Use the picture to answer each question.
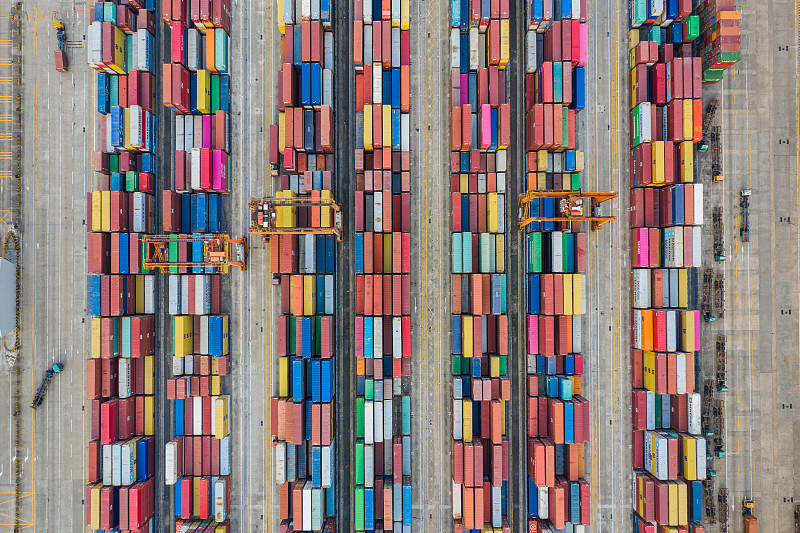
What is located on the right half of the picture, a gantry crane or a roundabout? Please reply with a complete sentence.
Visible on the right half of the picture is a gantry crane.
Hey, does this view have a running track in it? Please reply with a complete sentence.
No, I can't see a single running track in this photo.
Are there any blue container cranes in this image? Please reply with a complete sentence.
No, there is no blue container crane in the image.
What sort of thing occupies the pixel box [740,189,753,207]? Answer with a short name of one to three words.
vehicle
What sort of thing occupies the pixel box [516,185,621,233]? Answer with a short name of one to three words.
container crane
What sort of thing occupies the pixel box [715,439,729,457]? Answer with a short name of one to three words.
work vehicle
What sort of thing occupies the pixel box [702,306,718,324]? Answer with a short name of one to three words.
work vehicle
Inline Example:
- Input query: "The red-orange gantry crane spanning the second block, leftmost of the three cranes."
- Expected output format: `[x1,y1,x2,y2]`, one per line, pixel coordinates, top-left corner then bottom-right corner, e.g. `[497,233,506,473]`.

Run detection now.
[141,231,249,274]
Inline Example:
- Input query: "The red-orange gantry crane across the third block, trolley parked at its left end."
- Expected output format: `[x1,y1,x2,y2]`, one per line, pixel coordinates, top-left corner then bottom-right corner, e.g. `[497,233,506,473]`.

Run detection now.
[247,197,344,244]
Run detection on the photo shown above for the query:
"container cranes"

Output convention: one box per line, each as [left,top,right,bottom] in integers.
[247,197,344,244]
[516,185,621,233]
[141,231,249,274]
